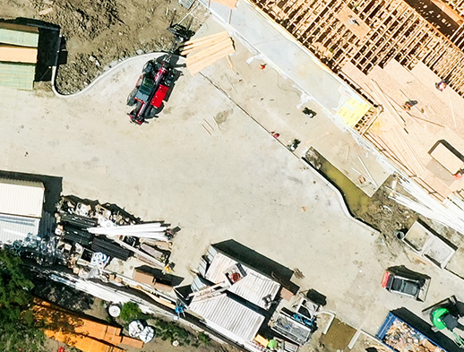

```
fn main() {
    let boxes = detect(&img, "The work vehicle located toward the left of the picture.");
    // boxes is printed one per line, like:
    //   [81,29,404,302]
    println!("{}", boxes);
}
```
[125,26,182,118]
